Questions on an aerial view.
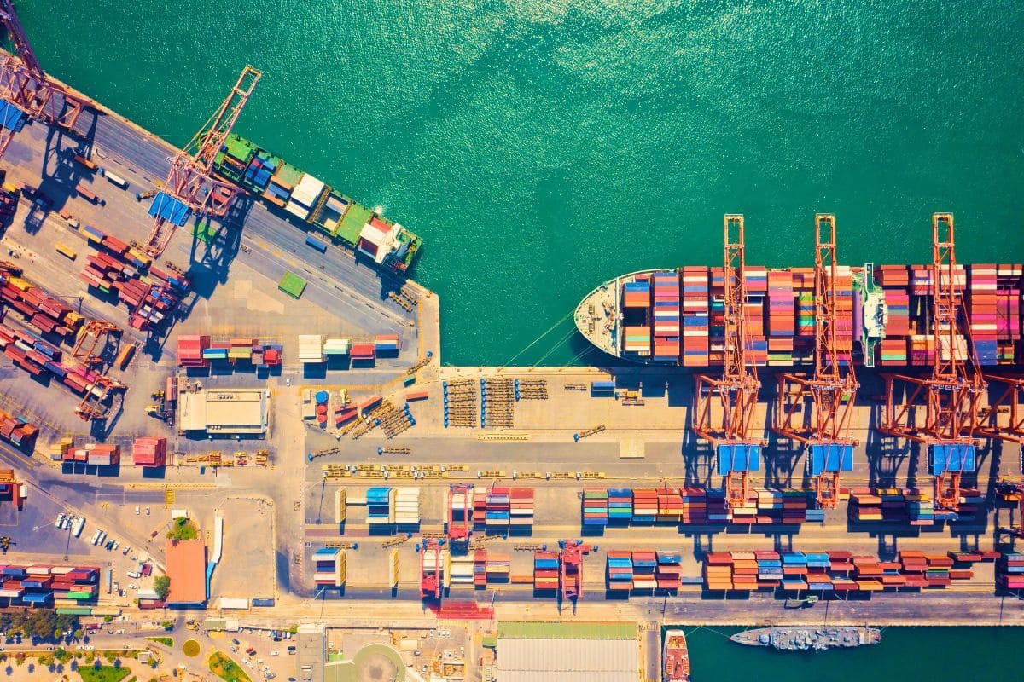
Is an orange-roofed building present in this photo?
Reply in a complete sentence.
Yes, I can see an orange-roofed building in this picture.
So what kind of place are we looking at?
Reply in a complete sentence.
It's a port.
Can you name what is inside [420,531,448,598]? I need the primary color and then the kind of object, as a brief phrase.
red crane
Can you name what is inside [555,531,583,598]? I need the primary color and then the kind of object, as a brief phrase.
red crane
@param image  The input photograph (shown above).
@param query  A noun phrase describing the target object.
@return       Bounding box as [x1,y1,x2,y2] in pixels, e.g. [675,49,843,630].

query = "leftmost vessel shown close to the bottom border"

[662,629,691,682]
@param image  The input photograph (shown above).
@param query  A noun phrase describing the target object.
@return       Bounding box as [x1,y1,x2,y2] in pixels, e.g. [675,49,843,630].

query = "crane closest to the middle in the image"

[447,475,474,540]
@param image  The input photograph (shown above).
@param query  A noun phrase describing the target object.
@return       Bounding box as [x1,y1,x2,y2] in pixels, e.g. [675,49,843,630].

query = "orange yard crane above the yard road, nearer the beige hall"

[78,369,139,418]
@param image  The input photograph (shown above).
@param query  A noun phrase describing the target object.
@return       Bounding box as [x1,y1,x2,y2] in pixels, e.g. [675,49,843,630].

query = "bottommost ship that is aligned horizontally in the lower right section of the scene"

[731,619,880,653]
